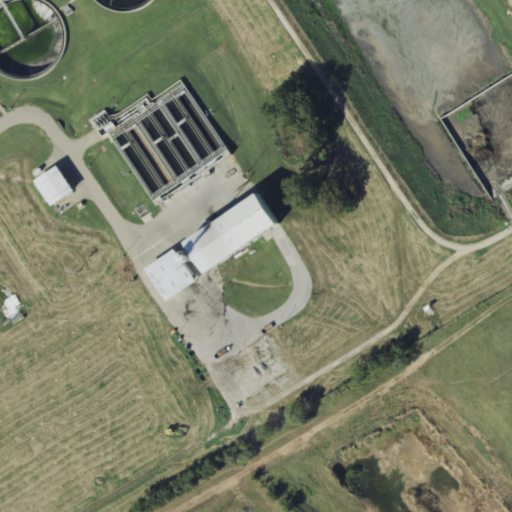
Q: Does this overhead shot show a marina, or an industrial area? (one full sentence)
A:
What you see here is an industrial area.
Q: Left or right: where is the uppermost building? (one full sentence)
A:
You can find the uppermost building on the left side of the picture.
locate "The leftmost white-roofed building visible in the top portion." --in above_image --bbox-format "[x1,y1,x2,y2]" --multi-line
[34,166,75,206]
